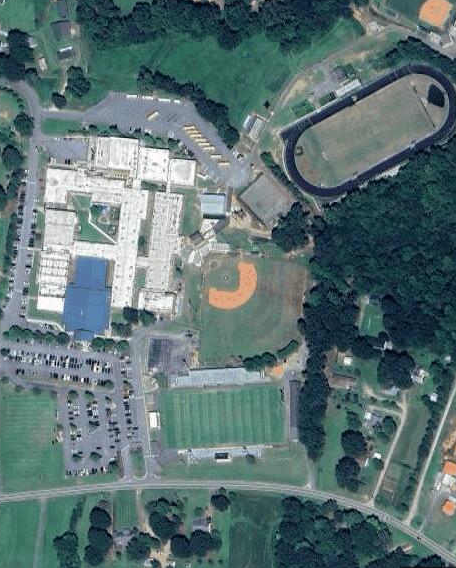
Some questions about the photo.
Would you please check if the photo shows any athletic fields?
Yes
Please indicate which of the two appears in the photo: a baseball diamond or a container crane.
baseball diamond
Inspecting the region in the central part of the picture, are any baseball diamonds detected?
Yes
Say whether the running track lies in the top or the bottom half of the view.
top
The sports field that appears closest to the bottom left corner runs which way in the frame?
horizontally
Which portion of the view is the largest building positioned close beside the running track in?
left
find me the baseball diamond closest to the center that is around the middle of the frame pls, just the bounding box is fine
[200,258,309,362]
